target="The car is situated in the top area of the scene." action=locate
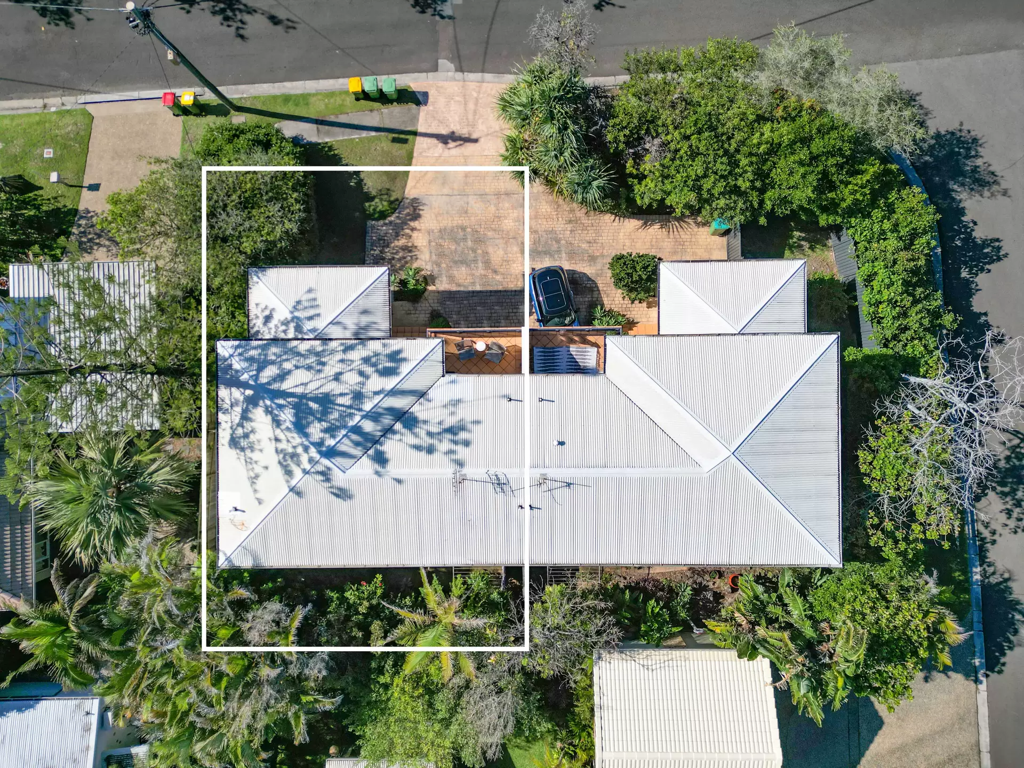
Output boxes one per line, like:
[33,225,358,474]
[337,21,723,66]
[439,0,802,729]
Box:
[530,260,588,328]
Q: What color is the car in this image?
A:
black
